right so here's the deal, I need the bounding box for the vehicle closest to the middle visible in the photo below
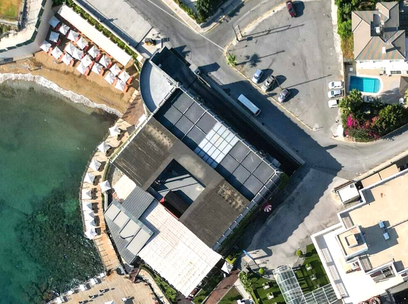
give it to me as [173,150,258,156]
[236,90,262,118]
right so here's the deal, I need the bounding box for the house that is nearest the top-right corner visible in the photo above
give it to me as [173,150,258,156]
[352,2,408,77]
